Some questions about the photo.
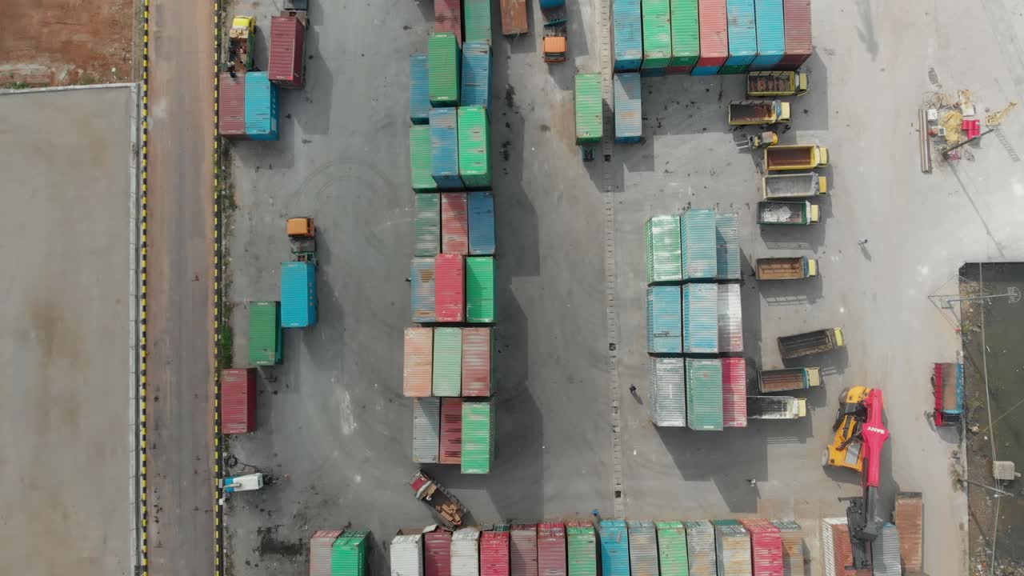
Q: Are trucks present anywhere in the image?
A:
Yes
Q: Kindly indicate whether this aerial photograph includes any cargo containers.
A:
Yes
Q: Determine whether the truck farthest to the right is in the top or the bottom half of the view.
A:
bottom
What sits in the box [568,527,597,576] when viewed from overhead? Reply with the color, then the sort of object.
green shipping container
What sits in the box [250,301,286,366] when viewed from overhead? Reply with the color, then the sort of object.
green shipping container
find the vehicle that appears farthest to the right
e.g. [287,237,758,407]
[928,362,967,426]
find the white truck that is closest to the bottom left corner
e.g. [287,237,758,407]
[220,471,281,497]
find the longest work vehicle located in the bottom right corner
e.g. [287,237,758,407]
[821,383,892,574]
